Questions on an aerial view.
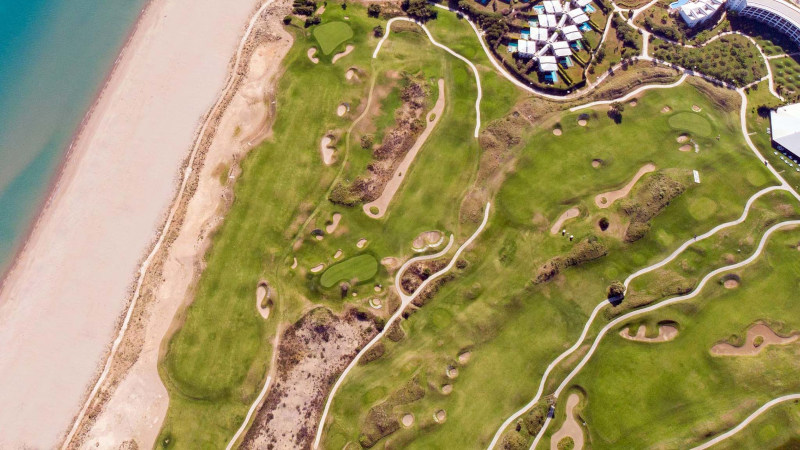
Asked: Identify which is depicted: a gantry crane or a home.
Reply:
home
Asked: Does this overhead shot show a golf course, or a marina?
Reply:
golf course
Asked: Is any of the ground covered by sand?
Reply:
Yes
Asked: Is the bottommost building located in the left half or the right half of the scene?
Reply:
right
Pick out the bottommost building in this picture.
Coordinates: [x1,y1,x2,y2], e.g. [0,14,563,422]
[770,104,800,159]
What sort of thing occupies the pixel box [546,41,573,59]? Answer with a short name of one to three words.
house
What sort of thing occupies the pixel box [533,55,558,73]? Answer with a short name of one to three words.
house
